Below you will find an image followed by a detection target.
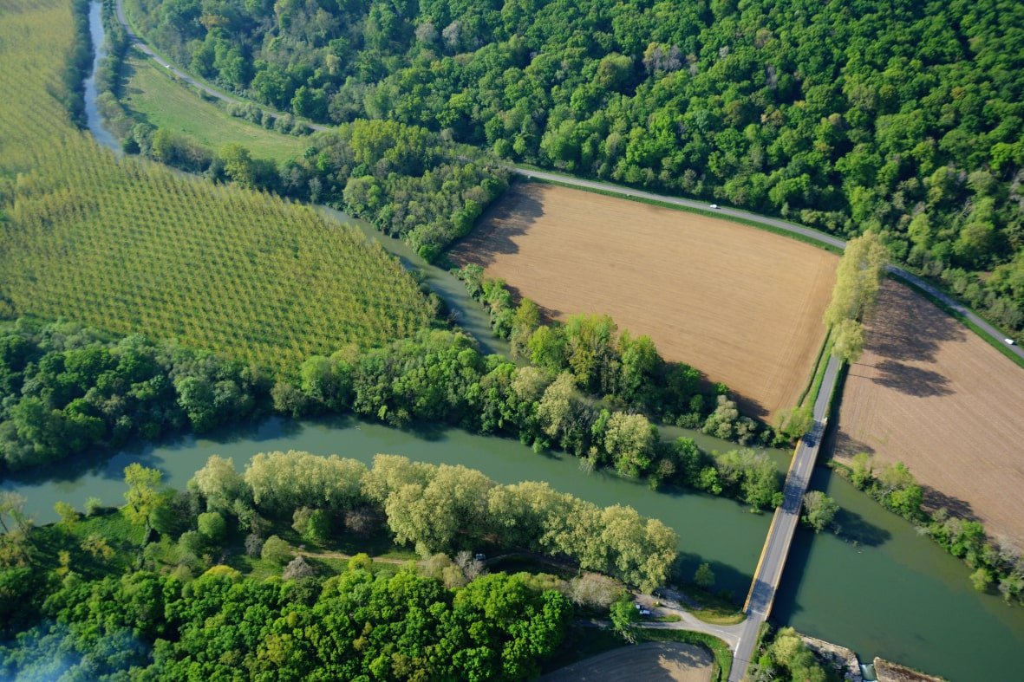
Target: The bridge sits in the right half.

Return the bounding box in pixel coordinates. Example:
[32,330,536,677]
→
[744,422,825,620]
